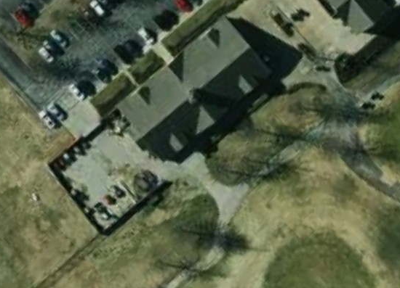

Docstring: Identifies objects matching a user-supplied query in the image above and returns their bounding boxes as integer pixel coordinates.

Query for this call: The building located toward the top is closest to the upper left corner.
[110,15,273,167]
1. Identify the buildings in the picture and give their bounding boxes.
[110,15,273,167]
[318,0,400,36]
